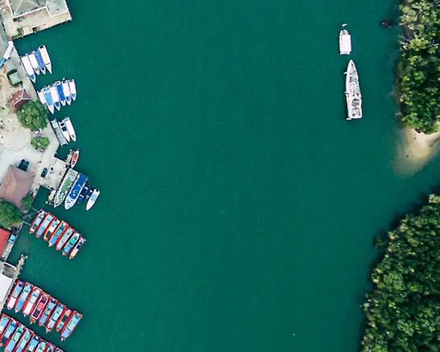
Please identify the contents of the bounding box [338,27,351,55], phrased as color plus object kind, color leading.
white boat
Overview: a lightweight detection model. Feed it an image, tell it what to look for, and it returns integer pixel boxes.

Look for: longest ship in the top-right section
[345,59,364,120]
